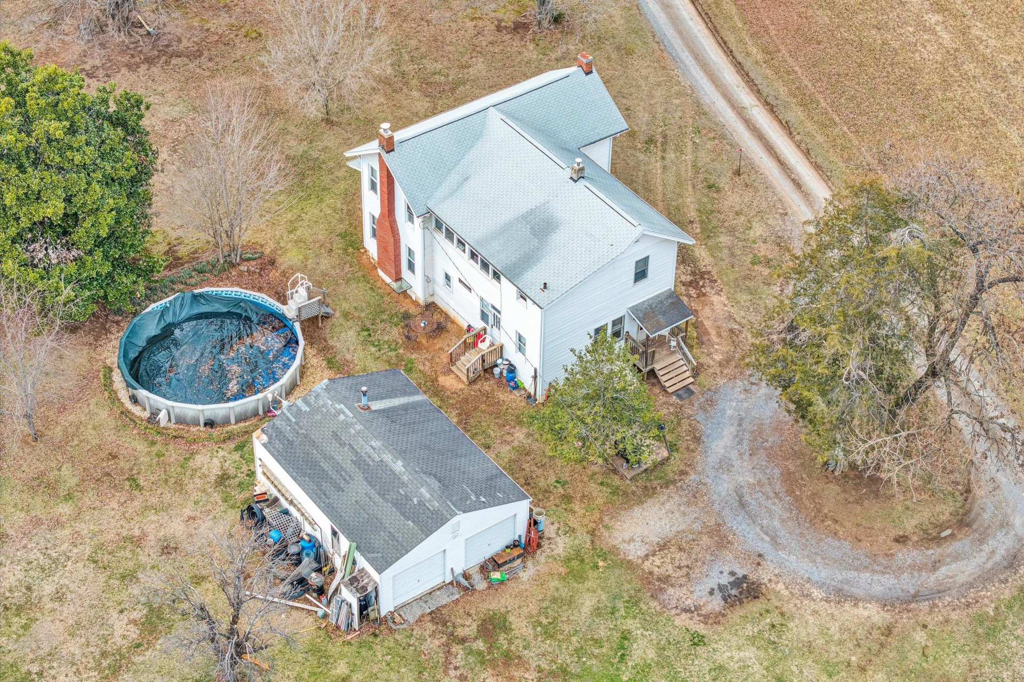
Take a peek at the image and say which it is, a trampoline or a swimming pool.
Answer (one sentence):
There is a swimming pool in the scene.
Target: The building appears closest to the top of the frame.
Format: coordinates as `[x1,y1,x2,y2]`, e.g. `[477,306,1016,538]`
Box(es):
[349,54,699,405]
